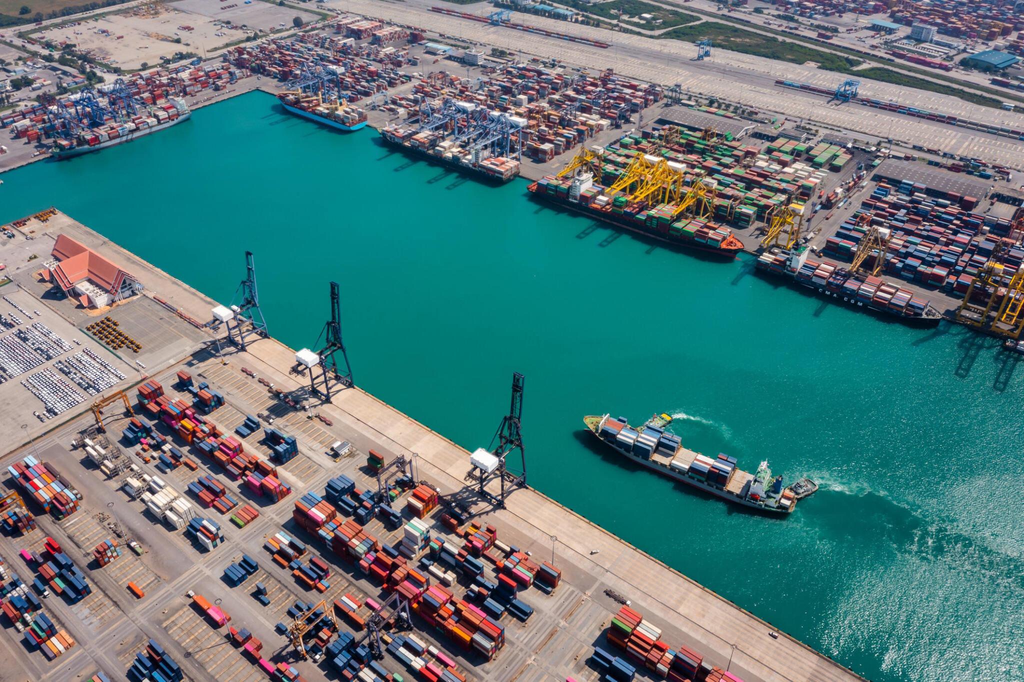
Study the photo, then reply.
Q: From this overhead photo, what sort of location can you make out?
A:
port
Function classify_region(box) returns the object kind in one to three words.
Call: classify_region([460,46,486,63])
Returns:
building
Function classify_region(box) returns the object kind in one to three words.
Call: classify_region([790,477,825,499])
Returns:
boat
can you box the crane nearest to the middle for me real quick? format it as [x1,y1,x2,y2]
[463,371,527,506]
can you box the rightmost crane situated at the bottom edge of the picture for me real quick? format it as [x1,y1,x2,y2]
[368,595,417,656]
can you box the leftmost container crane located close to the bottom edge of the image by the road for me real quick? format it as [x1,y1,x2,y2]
[290,597,342,658]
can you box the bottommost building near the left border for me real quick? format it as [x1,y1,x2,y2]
[31,233,139,308]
